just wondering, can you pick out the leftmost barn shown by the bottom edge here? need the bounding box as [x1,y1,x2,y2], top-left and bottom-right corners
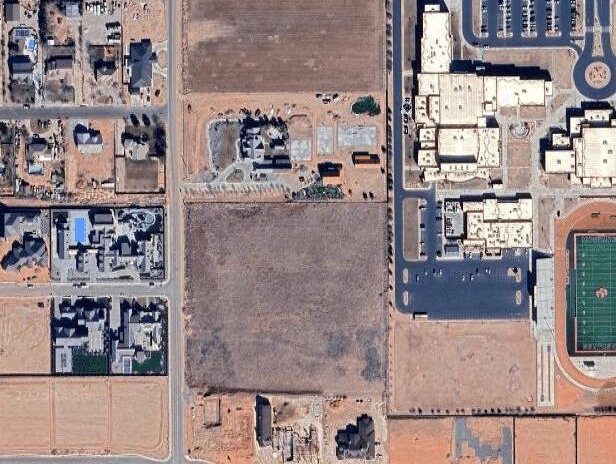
[256,396,271,447]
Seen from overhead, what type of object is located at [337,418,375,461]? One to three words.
house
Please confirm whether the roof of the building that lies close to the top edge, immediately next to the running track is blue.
No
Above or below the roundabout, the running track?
below it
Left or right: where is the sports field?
right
